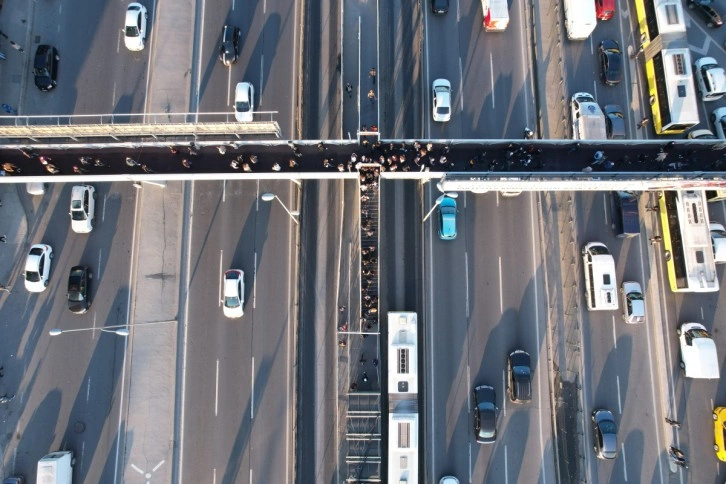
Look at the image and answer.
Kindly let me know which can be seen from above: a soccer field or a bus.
bus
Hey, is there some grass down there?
No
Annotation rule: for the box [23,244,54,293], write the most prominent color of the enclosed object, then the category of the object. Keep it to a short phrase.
white car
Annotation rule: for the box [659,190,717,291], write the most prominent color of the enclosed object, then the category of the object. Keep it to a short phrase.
white bus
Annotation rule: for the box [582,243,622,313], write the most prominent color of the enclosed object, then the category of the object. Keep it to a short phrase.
white vehicle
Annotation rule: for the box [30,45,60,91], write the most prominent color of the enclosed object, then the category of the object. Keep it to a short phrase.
black car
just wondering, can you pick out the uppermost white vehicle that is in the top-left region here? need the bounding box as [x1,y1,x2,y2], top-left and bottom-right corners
[121,4,148,51]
